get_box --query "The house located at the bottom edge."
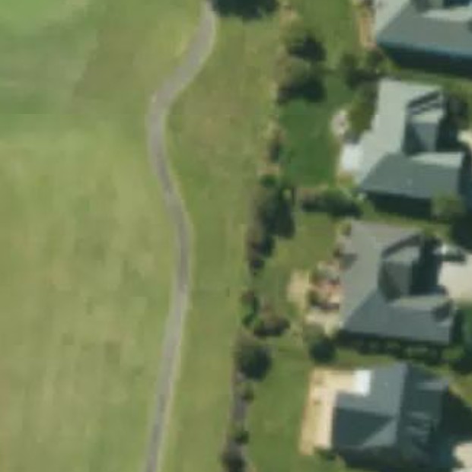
[325,361,443,466]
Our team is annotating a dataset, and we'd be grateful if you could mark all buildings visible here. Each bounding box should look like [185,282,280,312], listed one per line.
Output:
[325,361,443,466]
[375,0,472,63]
[353,82,468,208]
[336,222,454,351]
